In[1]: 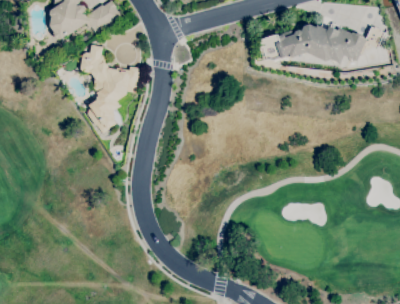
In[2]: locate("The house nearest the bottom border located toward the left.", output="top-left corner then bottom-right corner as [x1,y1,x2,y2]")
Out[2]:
[80,44,138,126]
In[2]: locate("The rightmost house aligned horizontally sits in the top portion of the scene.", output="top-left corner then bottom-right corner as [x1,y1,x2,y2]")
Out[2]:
[261,24,365,62]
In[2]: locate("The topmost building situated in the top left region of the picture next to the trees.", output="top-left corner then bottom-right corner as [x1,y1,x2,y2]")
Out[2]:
[48,0,119,36]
